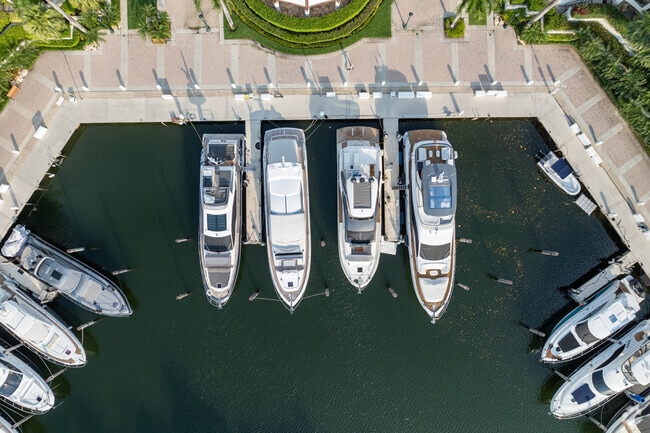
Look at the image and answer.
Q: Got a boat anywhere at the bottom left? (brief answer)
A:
Yes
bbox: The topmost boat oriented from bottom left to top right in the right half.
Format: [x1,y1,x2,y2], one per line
[537,270,649,364]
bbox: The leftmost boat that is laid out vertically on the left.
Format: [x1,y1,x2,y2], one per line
[199,133,246,312]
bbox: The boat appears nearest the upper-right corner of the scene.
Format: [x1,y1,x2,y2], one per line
[534,149,582,192]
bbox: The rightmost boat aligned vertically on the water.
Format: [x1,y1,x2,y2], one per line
[399,131,456,323]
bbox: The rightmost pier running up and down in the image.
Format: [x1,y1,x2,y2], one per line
[381,120,402,241]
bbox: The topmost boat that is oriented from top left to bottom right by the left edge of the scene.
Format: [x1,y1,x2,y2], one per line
[18,232,135,316]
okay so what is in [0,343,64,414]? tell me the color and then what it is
white boat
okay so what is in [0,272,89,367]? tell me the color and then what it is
white boat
